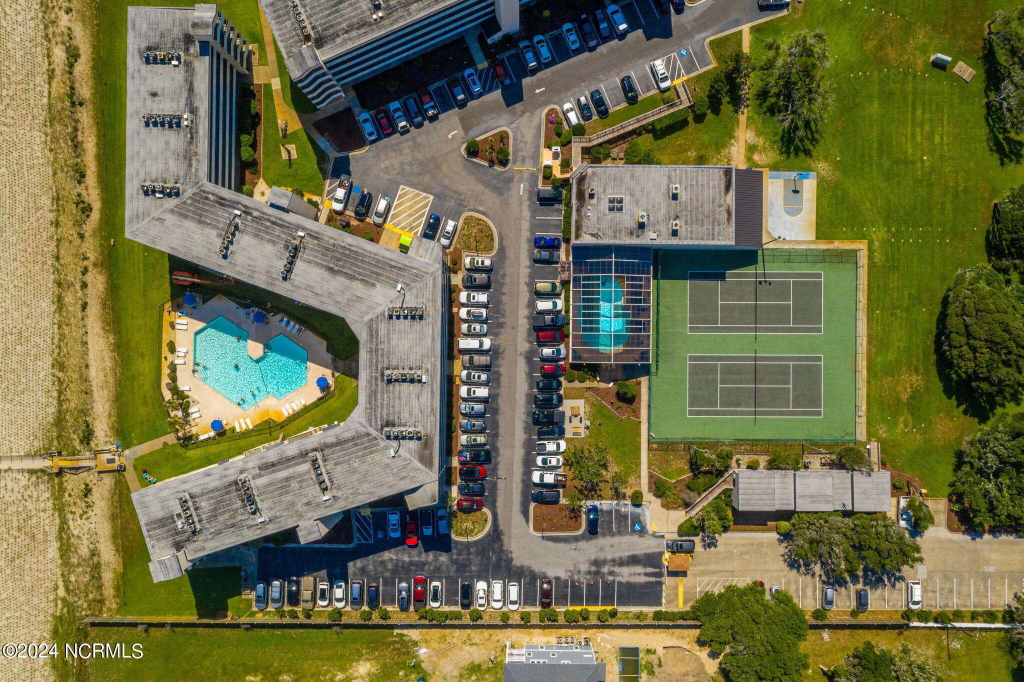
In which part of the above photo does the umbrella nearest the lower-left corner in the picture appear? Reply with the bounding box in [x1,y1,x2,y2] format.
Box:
[210,418,225,432]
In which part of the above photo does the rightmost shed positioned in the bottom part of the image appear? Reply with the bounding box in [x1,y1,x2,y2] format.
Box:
[724,465,897,512]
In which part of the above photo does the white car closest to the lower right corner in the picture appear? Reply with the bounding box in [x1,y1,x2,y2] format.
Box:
[906,579,923,610]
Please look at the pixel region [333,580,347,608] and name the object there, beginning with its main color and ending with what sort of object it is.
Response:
white car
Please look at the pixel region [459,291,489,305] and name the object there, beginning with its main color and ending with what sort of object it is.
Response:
white car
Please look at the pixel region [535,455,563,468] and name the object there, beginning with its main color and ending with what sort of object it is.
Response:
white vehicle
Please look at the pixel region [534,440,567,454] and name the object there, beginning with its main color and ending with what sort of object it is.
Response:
white vehicle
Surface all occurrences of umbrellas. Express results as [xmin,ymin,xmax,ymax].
[183,292,197,306]
[316,376,330,390]
[210,418,225,432]
[252,310,267,324]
